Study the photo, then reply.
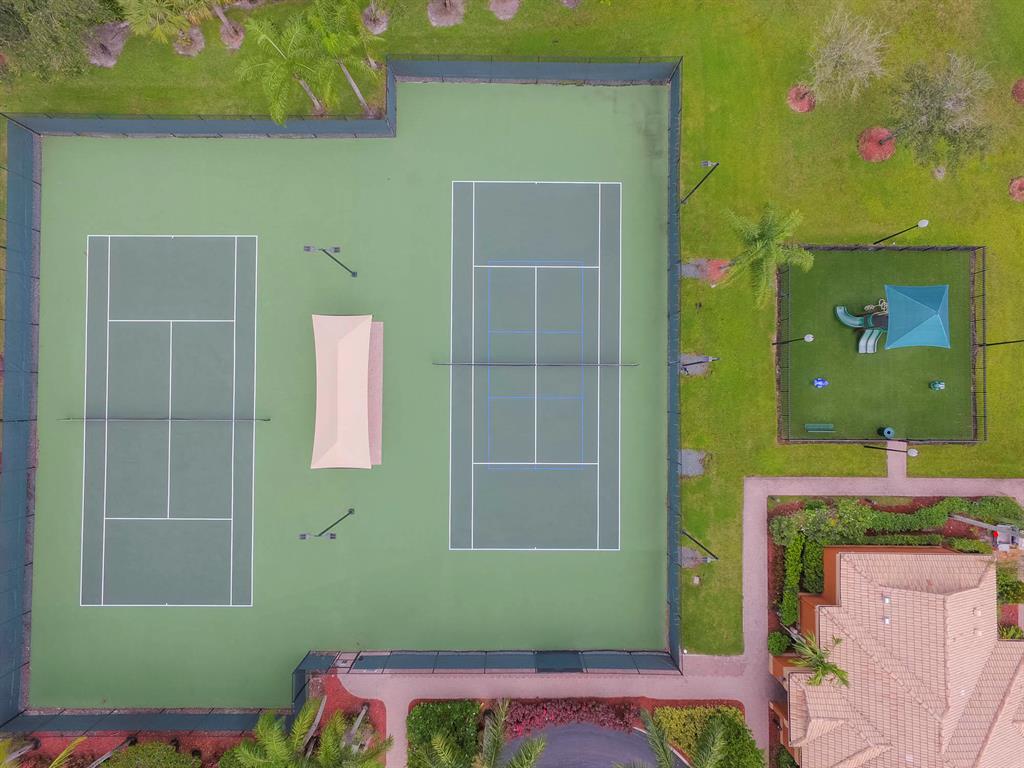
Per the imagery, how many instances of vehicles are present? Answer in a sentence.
There are no vehicles in this view.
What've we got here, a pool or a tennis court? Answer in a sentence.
Looking from above, you can make out a tennis court.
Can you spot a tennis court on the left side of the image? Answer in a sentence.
Yes, a tennis court is visible on the left side of the image.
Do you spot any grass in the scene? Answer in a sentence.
Yes, grass shows up in the scene.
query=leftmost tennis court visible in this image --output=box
[80,235,257,606]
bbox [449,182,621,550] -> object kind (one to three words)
tennis court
